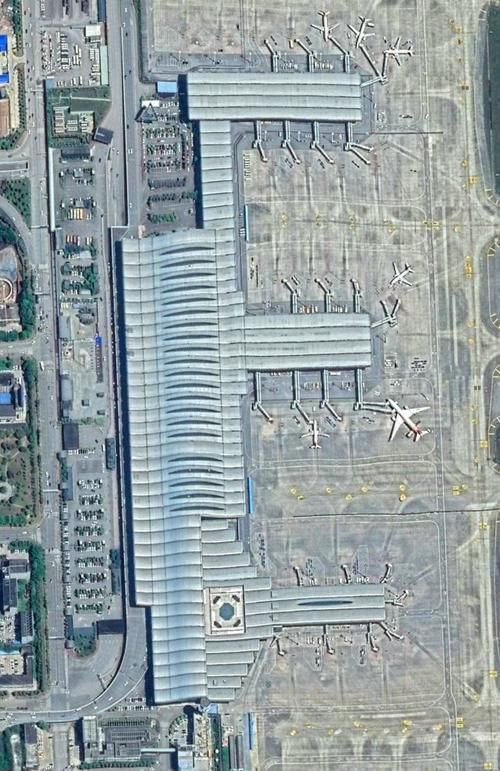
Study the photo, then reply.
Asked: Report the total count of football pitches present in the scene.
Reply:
0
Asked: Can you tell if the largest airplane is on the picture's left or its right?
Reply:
right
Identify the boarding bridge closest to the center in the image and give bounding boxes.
[255,370,273,422]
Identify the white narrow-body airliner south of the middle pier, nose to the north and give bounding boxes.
[301,420,330,448]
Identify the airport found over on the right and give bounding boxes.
[140,0,500,771]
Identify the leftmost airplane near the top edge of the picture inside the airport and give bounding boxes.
[310,11,338,40]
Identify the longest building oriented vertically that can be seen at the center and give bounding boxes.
[123,120,282,707]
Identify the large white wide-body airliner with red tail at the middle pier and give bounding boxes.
[386,399,430,440]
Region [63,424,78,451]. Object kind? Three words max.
building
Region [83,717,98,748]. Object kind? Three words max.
building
